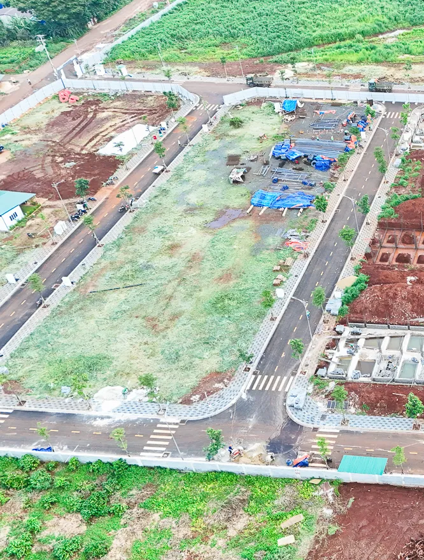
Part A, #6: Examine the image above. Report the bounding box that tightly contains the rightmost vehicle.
[366,79,393,91]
